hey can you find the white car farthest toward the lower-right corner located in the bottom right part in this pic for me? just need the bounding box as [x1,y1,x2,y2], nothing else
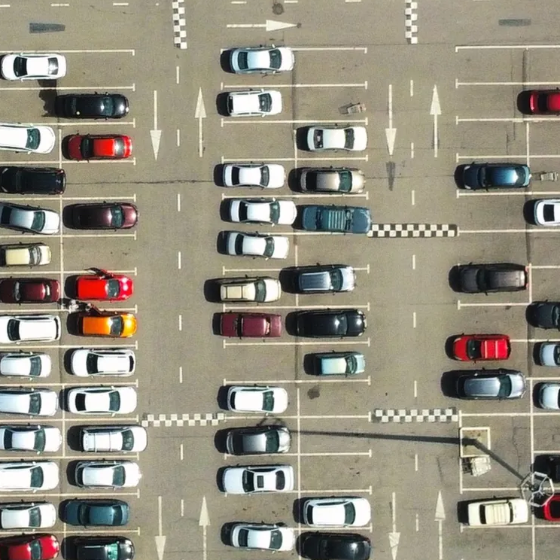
[466,496,528,529]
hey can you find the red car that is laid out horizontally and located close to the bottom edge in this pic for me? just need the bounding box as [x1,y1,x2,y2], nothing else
[0,533,60,560]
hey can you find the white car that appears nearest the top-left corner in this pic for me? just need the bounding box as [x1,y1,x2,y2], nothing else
[1,51,67,82]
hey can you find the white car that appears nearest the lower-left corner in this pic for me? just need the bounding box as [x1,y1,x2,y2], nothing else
[0,501,56,533]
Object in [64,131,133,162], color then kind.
red car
